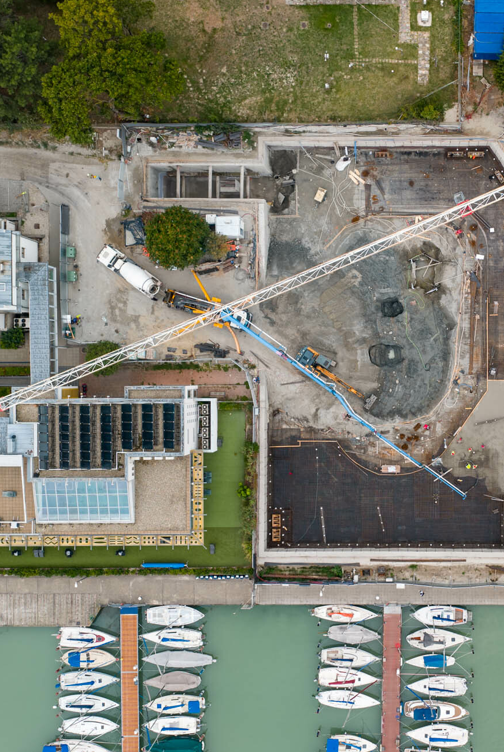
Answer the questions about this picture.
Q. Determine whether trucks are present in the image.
Yes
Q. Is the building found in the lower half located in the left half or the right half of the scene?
left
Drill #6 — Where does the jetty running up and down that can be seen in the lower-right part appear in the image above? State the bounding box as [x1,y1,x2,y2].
[377,600,407,752]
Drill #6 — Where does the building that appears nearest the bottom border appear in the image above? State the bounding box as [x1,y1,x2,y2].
[0,386,220,551]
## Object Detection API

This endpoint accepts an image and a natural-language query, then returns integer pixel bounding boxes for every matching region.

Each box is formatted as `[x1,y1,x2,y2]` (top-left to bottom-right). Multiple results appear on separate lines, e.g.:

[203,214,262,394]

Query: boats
[317,686,380,729]
[141,692,207,731]
[57,627,120,661]
[140,648,215,683]
[325,730,377,752]
[55,691,121,731]
[406,653,455,677]
[60,713,120,752]
[306,605,380,632]
[321,646,381,680]
[318,666,380,702]
[139,625,207,659]
[401,696,470,722]
[406,673,467,712]
[61,648,120,683]
[140,713,205,752]
[57,668,121,706]
[140,735,207,752]
[141,668,203,705]
[406,625,473,662]
[143,606,206,632]
[403,721,467,752]
[43,736,119,752]
[324,622,380,655]
[410,606,470,633]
